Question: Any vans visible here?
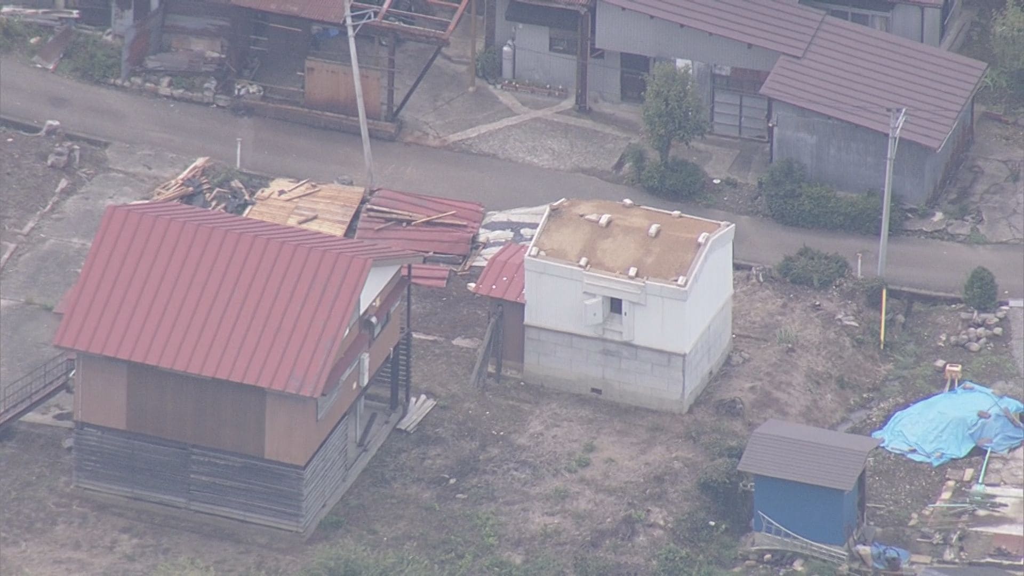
No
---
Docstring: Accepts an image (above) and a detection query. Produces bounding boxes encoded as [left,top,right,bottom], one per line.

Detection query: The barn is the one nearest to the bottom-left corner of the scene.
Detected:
[53,200,424,538]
